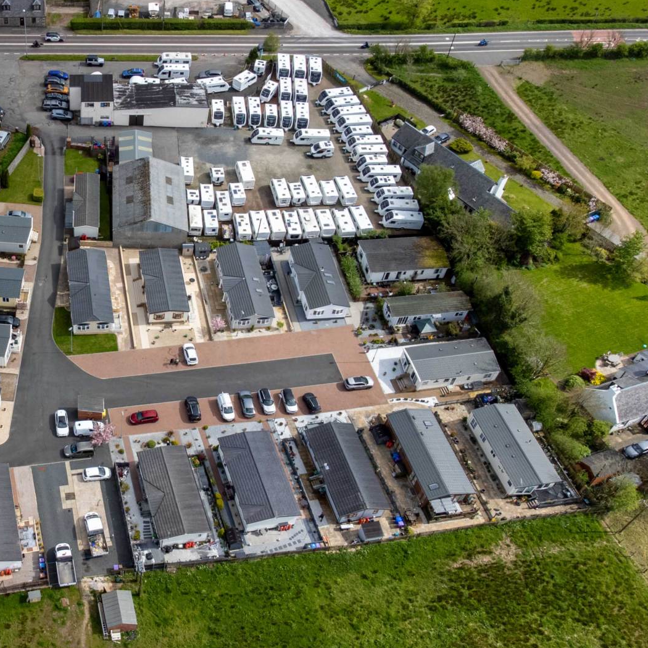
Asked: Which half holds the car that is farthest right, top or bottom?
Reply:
bottom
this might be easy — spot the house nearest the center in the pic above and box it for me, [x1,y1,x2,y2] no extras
[288,242,351,319]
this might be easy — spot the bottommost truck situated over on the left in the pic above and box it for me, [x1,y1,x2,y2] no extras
[53,543,78,589]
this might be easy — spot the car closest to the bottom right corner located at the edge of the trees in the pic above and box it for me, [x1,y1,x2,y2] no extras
[620,439,648,461]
